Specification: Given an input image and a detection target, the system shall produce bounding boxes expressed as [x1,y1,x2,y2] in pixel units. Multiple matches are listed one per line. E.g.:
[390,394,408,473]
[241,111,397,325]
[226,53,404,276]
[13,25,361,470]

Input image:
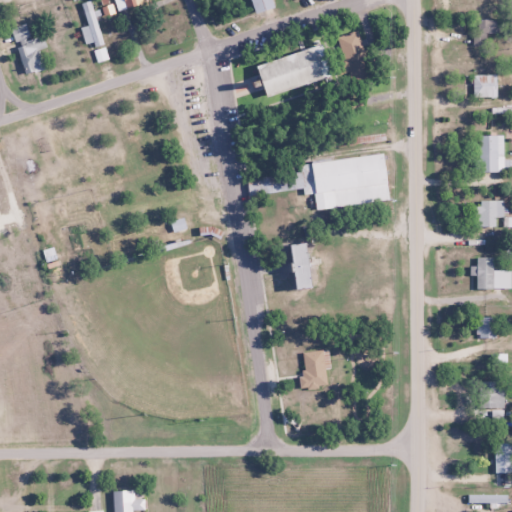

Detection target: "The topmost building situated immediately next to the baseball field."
[249,154,391,210]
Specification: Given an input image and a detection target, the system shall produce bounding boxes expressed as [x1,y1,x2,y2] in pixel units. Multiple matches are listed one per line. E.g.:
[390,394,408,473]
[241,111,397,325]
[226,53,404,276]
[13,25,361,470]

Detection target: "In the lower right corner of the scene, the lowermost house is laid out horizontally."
[469,495,510,509]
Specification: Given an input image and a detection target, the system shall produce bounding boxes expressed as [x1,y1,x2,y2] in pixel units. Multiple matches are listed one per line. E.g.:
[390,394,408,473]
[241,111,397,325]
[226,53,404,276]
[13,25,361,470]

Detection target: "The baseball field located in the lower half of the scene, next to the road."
[74,243,249,420]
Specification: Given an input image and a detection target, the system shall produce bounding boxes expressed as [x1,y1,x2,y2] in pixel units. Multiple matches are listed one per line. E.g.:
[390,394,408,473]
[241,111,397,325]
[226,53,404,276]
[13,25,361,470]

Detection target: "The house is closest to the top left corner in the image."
[14,26,48,74]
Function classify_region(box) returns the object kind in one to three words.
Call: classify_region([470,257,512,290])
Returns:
house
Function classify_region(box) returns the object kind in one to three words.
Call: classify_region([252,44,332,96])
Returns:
building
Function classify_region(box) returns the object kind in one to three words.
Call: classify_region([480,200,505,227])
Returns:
house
